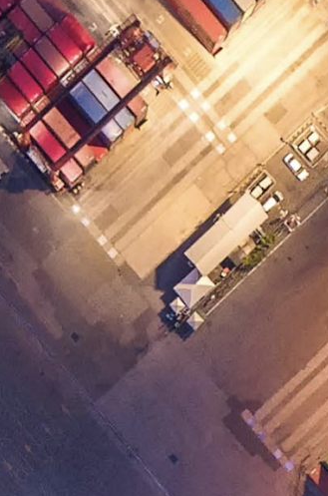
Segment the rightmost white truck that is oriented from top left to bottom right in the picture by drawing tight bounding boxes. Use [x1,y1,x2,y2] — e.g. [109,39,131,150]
[282,153,309,184]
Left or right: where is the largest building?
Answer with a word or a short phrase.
right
